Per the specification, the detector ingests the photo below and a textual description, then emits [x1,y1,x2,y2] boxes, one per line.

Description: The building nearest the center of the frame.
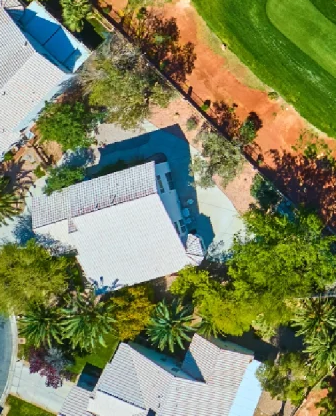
[31,160,208,292]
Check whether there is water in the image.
No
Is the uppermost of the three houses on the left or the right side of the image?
left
